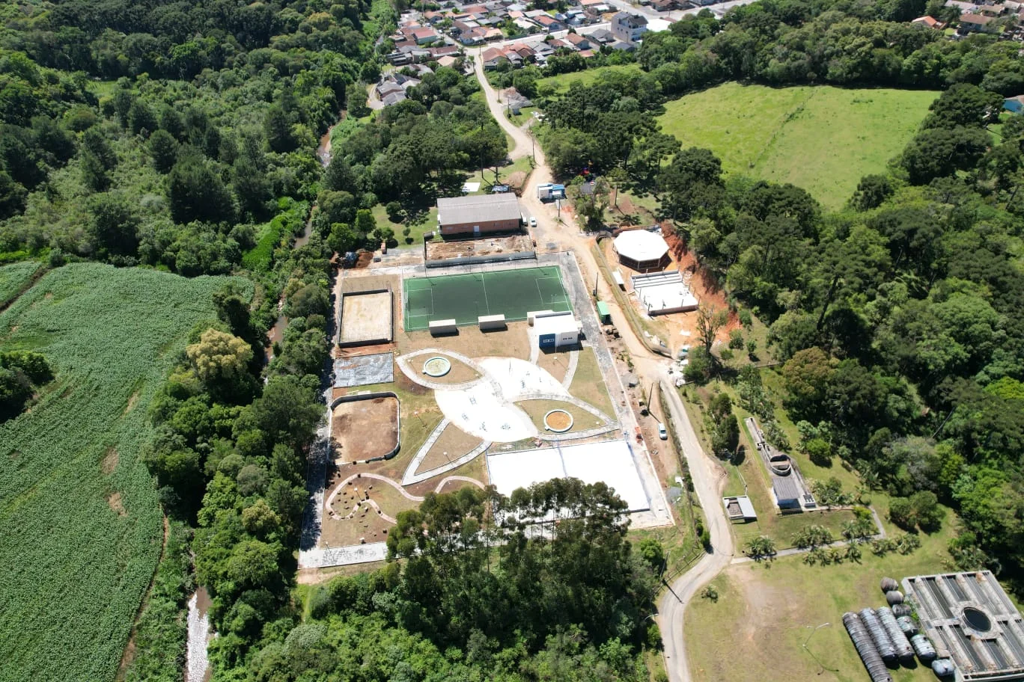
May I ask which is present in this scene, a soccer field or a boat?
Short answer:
soccer field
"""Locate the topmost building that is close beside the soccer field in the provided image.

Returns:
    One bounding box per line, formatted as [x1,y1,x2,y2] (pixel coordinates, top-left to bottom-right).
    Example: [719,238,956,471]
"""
[437,192,522,235]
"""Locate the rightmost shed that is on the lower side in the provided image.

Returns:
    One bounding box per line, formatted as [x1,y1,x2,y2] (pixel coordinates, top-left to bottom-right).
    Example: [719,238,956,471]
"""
[765,475,803,507]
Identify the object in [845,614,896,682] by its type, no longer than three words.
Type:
storage tank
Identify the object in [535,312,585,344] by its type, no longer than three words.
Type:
building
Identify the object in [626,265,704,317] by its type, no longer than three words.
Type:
building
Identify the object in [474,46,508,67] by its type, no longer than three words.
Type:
house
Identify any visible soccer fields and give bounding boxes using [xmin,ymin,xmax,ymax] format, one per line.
[403,265,574,332]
